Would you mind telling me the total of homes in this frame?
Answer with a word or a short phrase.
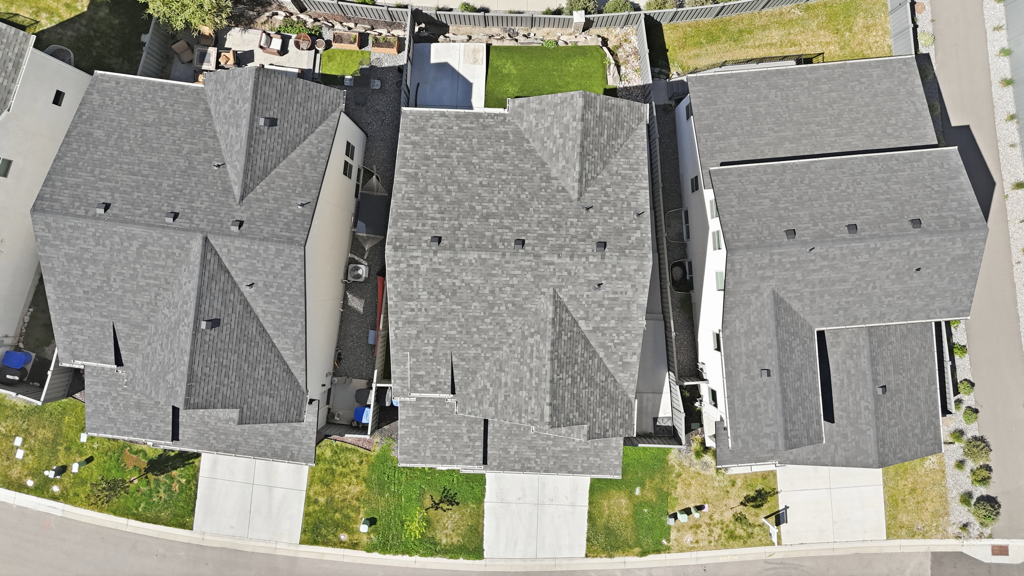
three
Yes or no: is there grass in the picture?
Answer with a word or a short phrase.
Yes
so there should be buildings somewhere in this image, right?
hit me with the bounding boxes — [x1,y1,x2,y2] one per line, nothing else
[676,52,990,469]
[37,66,365,471]
[388,91,655,480]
